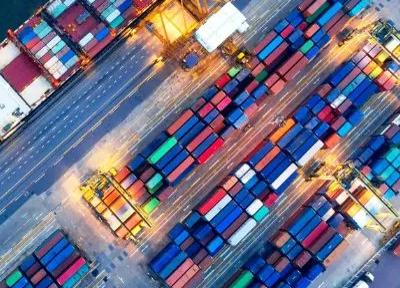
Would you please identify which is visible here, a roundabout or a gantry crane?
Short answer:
gantry crane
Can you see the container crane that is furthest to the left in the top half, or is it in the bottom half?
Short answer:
bottom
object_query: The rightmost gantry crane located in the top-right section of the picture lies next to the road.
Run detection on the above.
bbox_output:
[338,16,400,63]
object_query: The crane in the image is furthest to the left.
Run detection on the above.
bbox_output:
[80,169,153,244]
